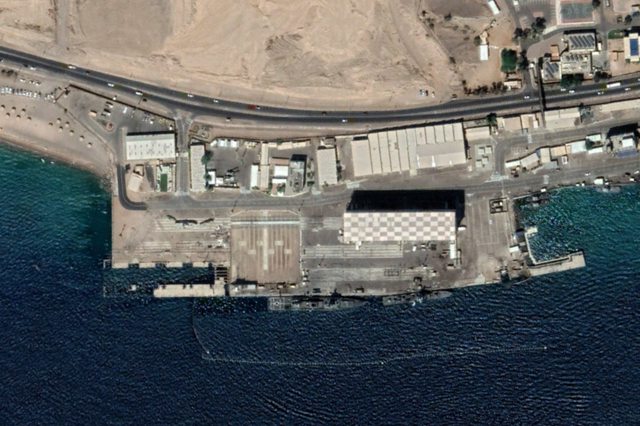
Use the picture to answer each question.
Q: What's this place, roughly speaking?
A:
port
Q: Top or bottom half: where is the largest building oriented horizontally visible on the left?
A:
top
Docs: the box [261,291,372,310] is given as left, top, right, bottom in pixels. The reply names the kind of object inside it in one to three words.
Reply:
ship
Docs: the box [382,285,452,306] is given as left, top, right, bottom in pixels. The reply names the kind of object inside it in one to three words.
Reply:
ship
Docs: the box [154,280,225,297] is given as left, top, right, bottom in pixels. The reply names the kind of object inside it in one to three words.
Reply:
pier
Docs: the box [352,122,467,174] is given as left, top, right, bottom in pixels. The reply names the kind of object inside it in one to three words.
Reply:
building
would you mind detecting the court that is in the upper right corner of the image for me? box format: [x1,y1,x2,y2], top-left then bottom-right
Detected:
[558,0,594,25]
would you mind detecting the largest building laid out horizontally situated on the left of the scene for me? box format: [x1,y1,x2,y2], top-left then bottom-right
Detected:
[126,134,175,161]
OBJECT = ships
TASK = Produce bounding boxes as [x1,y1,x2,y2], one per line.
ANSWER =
[382,285,452,306]
[261,291,372,310]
